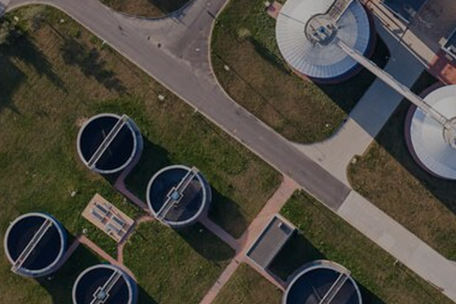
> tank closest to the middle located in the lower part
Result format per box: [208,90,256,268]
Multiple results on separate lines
[145,162,211,226]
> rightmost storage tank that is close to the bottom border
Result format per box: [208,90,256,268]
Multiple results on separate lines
[278,254,368,304]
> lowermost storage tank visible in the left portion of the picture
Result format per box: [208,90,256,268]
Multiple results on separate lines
[72,260,137,304]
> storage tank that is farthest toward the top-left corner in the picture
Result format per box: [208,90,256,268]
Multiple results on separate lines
[77,111,141,175]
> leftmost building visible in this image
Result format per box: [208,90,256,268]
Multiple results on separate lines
[247,212,299,269]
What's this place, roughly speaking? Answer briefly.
industrial area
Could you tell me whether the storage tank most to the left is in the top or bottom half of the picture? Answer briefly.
bottom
